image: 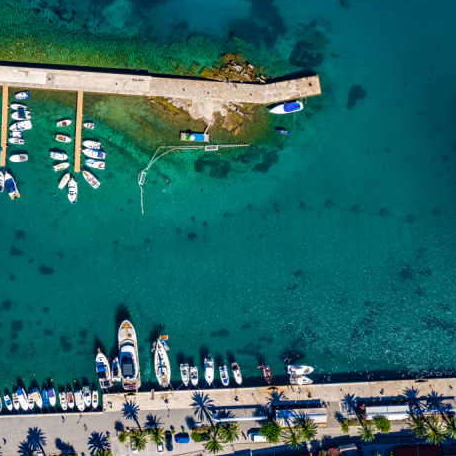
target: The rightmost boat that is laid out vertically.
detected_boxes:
[262,358,274,384]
